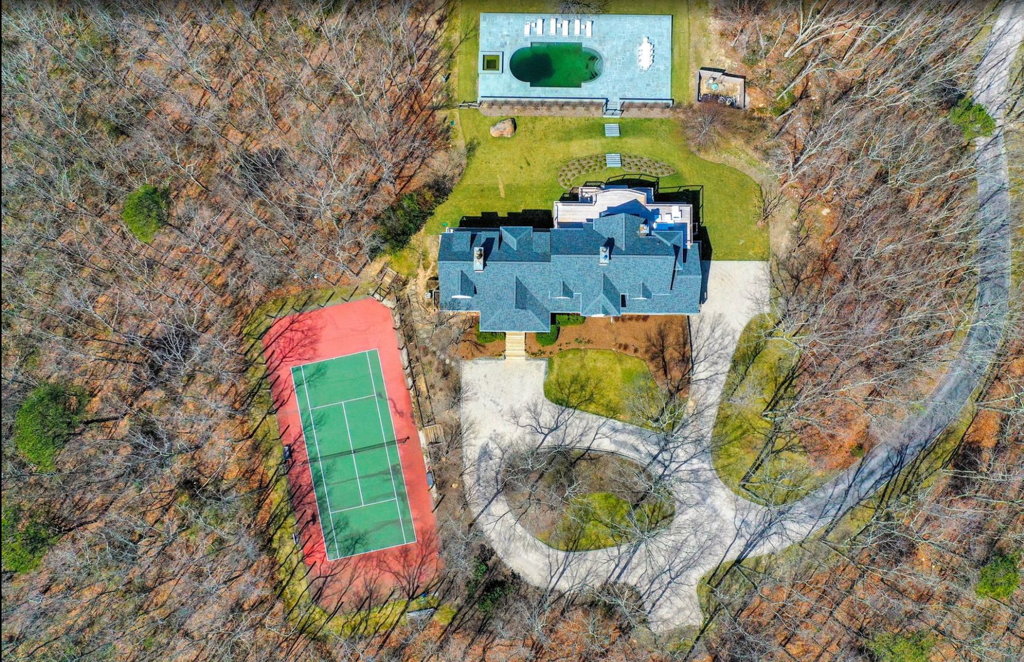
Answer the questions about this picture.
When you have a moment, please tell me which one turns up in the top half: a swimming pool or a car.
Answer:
swimming pool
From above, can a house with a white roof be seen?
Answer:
No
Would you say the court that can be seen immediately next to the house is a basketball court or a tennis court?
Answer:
tennis court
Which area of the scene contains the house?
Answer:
center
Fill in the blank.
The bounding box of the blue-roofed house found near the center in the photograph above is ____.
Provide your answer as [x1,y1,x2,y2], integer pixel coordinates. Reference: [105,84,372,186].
[438,215,701,332]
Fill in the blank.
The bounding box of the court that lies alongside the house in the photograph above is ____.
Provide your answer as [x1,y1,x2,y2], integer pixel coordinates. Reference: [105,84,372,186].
[262,297,444,614]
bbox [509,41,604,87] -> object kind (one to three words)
swimming pool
